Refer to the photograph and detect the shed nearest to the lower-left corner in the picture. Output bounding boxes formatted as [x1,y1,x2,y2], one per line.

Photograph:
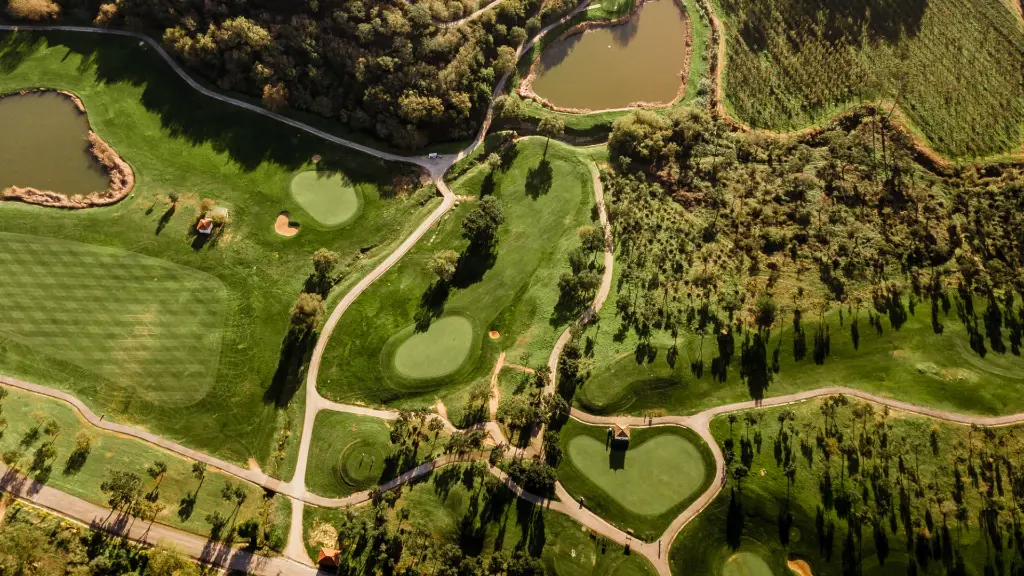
[316,548,341,571]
